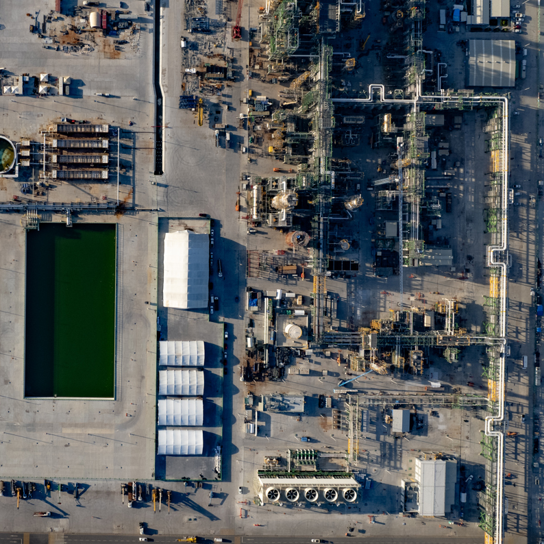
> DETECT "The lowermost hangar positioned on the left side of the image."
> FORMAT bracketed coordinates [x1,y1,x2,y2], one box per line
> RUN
[159,430,206,456]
